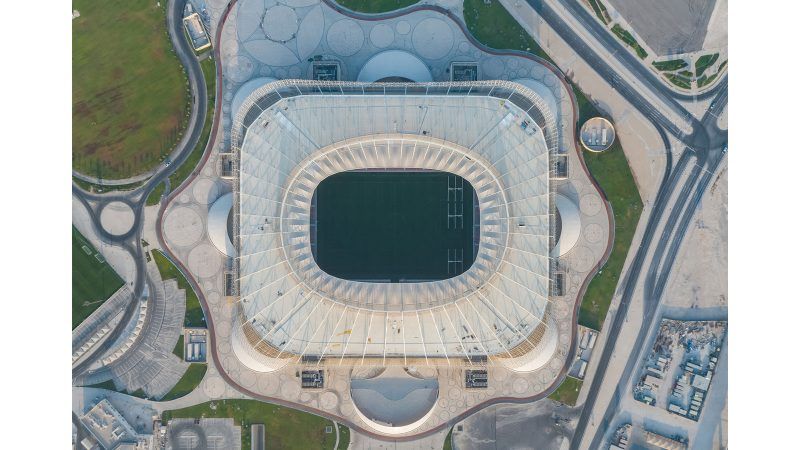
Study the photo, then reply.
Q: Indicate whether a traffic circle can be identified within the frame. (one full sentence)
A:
Yes, the photo shows a traffic circle.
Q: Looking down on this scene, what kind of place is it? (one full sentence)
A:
What you see here is a sports ground.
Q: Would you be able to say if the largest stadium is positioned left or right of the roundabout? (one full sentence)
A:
To the right of the roundabout is where the largest stadium appears.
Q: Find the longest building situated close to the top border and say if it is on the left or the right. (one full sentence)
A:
The longest building situated close to the top border appears in the left half of the scene.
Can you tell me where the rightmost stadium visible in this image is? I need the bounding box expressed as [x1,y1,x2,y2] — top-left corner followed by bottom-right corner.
[207,49,582,434]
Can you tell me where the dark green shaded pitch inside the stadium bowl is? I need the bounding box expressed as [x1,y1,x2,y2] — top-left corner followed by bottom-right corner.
[329,181,460,269]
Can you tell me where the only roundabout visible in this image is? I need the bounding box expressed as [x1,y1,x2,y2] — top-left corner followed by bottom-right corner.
[91,193,142,243]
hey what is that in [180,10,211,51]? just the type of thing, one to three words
building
